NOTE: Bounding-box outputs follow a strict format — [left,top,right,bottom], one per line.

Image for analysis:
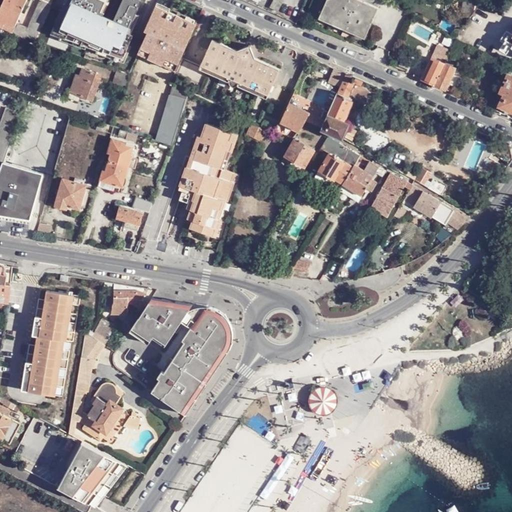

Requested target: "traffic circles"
[262,308,298,344]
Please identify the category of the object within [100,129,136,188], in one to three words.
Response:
house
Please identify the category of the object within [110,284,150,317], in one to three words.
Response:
house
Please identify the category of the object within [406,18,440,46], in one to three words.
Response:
swimming pool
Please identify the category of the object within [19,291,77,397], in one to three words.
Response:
building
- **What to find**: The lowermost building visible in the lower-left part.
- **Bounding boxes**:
[58,440,127,508]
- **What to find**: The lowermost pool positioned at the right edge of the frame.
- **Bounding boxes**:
[460,138,488,172]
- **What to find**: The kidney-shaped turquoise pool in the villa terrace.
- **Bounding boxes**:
[132,428,154,455]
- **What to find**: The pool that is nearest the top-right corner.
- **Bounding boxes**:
[437,18,456,34]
